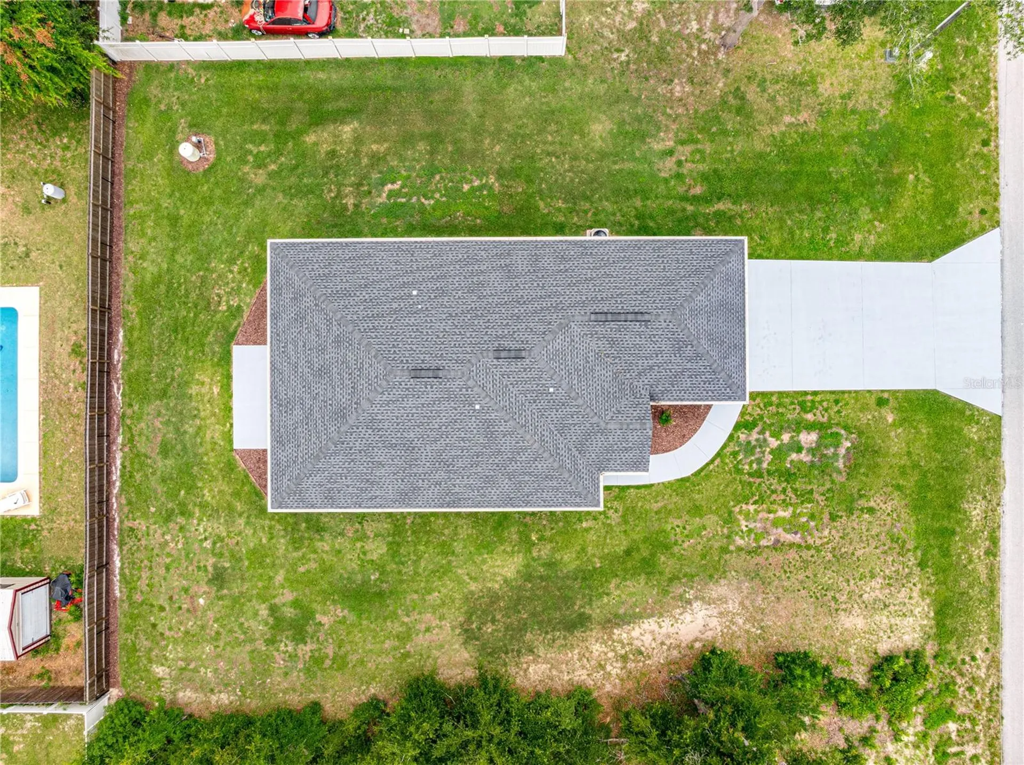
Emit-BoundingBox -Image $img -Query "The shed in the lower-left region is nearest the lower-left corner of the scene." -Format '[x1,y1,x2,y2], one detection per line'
[0,578,50,658]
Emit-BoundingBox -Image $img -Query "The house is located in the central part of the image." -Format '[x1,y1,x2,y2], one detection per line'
[268,235,751,514]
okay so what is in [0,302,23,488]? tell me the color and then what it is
blue swimming pool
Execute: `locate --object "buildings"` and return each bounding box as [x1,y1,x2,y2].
[0,578,50,658]
[268,235,751,514]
